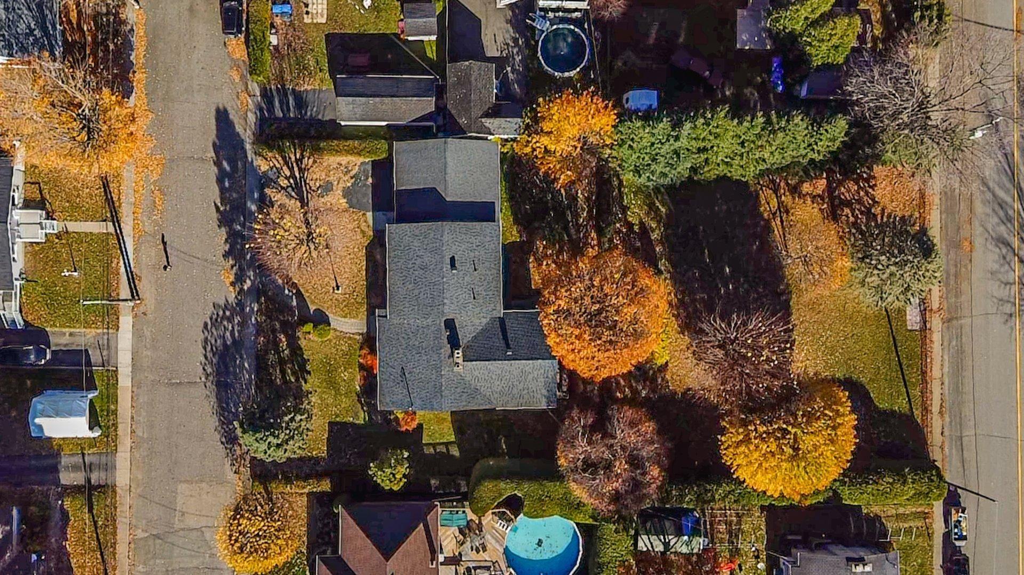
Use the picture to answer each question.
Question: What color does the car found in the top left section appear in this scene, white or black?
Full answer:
From above, the car found in the top left section appears black.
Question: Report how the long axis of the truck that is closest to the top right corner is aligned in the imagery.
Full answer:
The truck that is closest to the top right corner has been laid out on a diagonal relative to the frame.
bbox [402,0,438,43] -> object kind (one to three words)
shed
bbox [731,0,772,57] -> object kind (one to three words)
shed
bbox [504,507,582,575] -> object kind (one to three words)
swimming pool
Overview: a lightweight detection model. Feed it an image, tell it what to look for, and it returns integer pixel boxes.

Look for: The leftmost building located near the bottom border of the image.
[316,495,440,575]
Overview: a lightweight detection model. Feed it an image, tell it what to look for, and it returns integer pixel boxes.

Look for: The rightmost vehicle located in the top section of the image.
[670,46,725,93]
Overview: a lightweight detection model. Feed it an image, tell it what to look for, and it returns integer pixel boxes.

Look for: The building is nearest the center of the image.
[376,136,576,416]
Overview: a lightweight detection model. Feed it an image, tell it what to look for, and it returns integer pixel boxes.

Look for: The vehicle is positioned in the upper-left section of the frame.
[220,0,245,36]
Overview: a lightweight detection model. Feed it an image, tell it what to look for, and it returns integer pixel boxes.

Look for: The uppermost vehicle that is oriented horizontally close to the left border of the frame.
[0,343,51,366]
